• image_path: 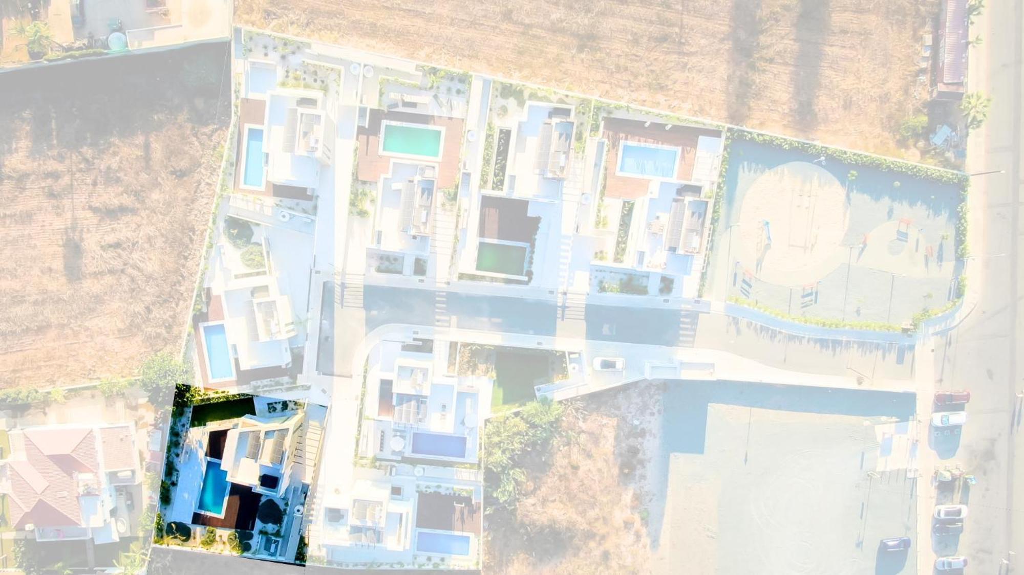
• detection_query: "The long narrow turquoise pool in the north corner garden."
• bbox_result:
[240,125,266,191]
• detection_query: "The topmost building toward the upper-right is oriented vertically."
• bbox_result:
[925,0,967,100]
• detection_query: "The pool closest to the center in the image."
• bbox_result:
[473,239,530,278]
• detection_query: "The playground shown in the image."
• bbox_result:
[709,130,966,330]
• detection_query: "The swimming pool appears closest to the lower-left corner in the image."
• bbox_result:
[194,459,229,518]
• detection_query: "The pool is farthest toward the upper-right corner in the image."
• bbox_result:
[616,142,680,180]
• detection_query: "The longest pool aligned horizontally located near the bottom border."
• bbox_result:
[413,529,473,559]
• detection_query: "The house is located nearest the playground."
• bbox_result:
[629,180,713,275]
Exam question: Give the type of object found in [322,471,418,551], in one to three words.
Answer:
house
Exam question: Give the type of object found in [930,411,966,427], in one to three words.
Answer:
car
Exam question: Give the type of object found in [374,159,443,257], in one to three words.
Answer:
house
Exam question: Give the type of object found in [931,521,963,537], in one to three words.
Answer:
car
